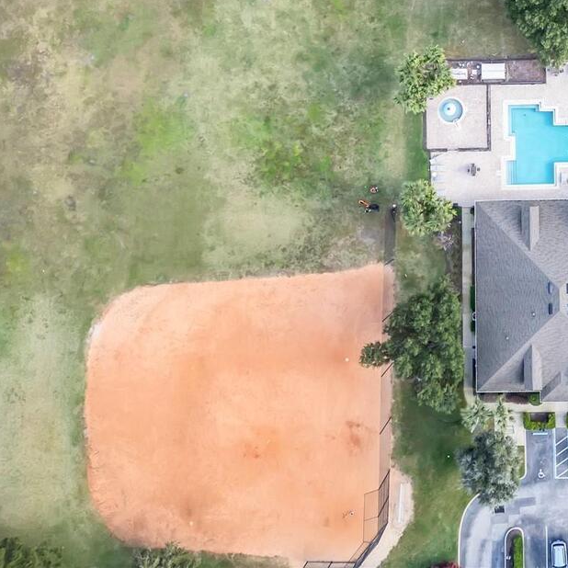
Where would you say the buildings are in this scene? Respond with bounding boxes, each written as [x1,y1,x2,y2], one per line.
[474,199,568,402]
[481,62,506,79]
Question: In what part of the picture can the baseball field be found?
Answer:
bottom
